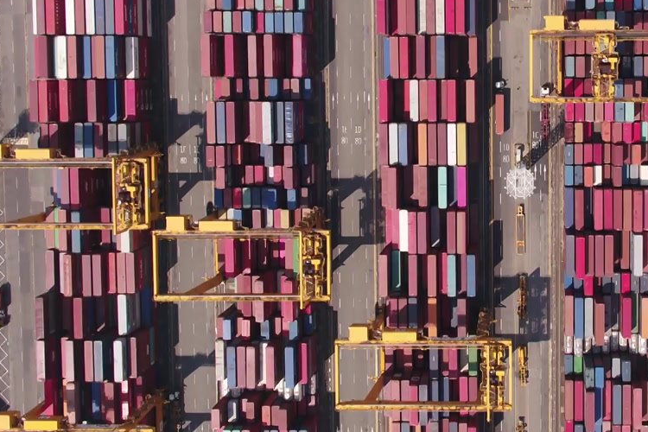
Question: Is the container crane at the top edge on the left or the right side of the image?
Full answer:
It is on the right.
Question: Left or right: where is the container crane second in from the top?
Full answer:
It is on the left.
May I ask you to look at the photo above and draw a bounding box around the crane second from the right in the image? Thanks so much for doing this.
[335,300,512,427]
